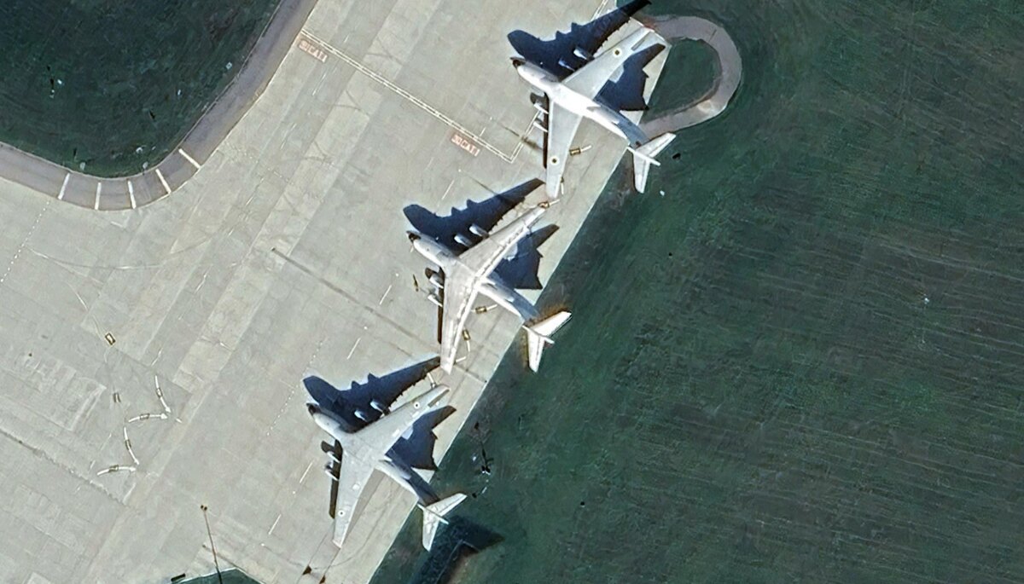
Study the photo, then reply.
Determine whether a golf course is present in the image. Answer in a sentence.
No, there appears to be no golf course in this shot.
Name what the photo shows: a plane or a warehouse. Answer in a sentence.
Visible in the photo is a plane.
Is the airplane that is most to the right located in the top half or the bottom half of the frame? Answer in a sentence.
It is in the top half that the airplane that is most to the right appears.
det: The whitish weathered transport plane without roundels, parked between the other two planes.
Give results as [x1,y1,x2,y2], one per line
[404,204,571,373]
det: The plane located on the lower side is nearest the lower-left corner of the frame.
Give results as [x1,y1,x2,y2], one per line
[306,384,467,551]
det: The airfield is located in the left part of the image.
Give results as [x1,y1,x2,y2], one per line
[0,0,742,584]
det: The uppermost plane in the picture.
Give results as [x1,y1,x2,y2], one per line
[509,27,677,197]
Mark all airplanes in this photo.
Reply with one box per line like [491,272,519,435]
[509,27,677,197]
[306,384,467,551]
[404,204,571,373]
